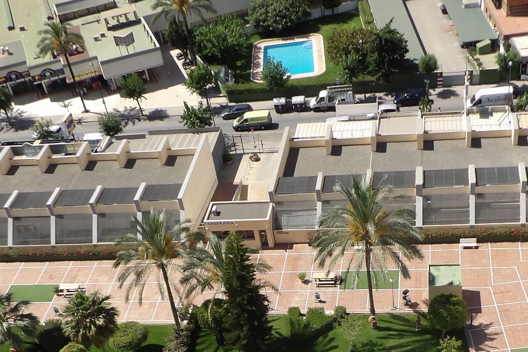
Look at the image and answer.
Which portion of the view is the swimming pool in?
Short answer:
top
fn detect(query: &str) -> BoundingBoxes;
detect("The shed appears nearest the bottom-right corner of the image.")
[428,265,462,304]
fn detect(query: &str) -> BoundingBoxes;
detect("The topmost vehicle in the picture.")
[437,1,451,19]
